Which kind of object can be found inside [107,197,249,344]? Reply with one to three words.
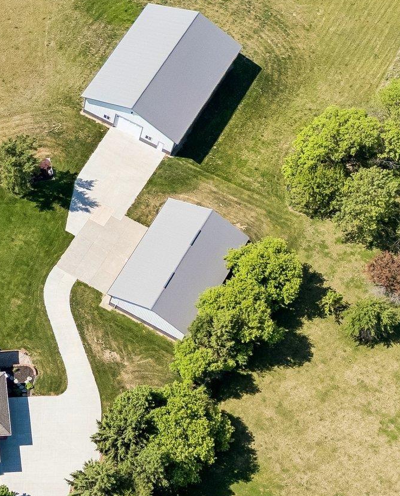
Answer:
barn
